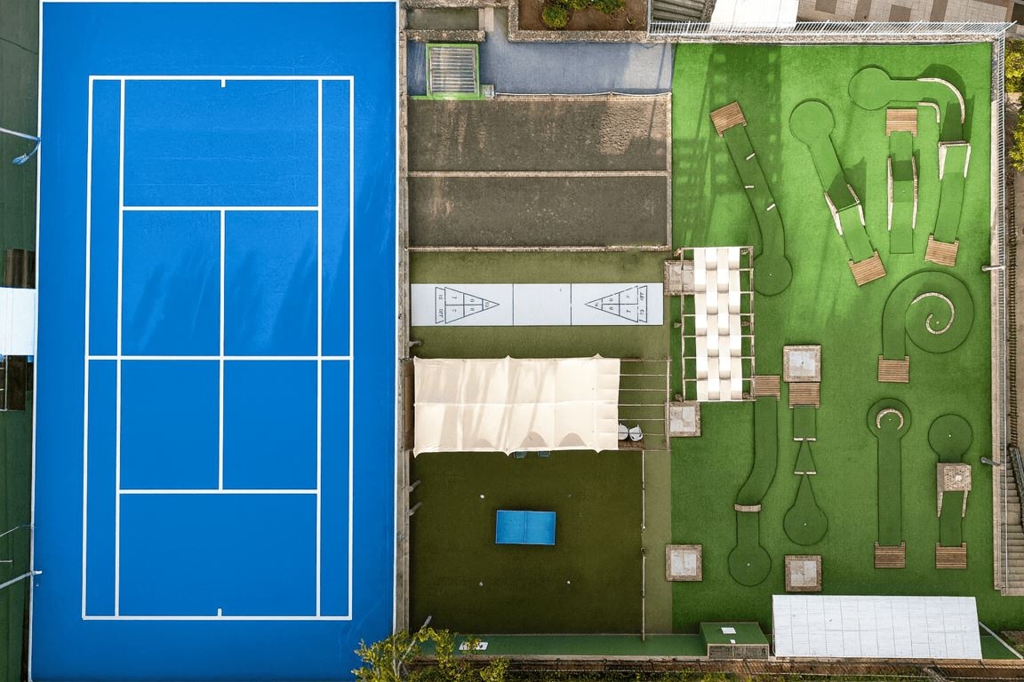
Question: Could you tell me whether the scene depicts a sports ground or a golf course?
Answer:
sports ground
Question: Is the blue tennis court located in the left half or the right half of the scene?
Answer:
left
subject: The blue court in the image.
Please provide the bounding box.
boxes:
[26,0,398,682]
